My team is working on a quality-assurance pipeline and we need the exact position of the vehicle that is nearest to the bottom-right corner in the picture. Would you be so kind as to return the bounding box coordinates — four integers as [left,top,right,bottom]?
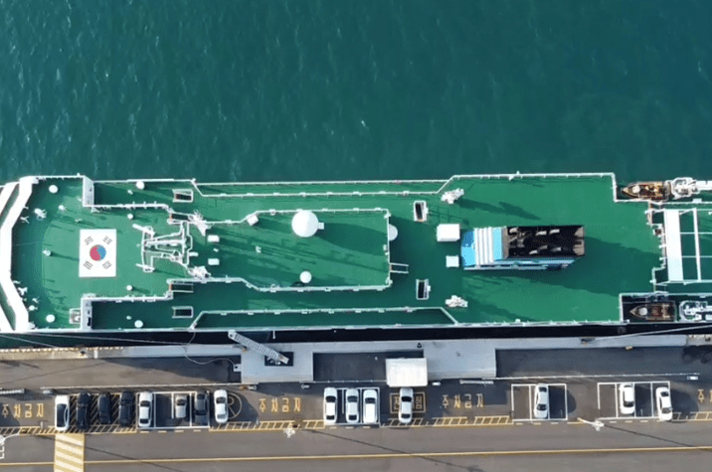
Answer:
[654,385,675,419]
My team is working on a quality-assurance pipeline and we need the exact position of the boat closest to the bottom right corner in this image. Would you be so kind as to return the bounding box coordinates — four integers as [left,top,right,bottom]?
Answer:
[627,301,678,321]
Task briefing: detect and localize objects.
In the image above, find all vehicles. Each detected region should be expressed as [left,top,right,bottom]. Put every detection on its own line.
[73,393,92,429]
[138,391,155,427]
[192,389,209,426]
[654,385,675,419]
[362,388,380,424]
[323,388,338,424]
[618,382,637,416]
[117,392,135,426]
[54,395,71,431]
[398,388,414,423]
[533,384,551,419]
[214,389,229,424]
[173,393,188,421]
[344,389,360,422]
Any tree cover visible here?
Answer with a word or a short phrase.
No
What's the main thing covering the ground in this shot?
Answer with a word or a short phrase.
water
